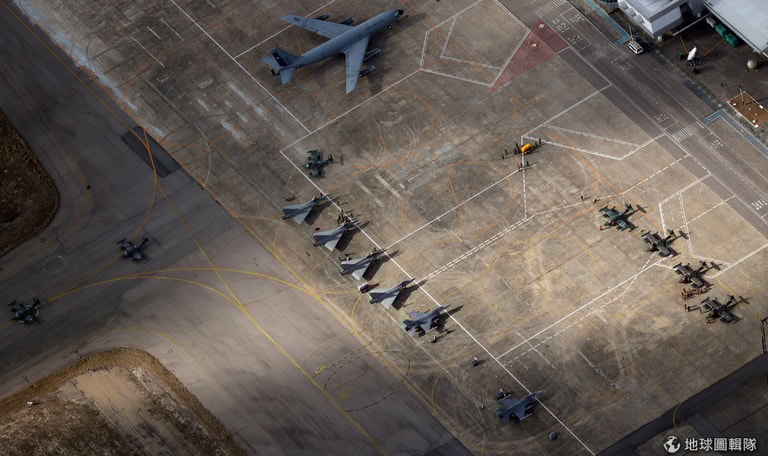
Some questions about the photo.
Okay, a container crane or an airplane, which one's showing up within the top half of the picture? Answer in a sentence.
The one visible within the top half of the picture is an airplane.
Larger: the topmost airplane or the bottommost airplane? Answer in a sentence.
Of the two, the topmost airplane is larger and the bottommost airplane is the smaller one.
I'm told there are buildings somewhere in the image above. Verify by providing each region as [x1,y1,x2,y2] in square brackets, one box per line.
[609,0,685,39]
[694,0,768,60]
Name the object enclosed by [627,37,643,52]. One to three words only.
vehicle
